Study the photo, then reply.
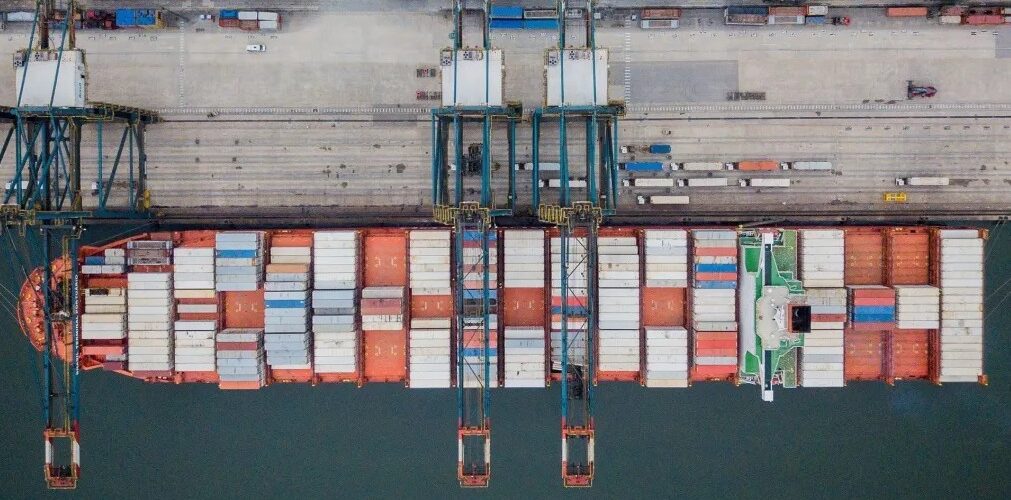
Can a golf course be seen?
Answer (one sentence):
No, the photo shows no golf course.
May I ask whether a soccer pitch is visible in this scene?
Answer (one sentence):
No, this view has no soccer pitch in it.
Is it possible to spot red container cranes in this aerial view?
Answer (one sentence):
No, there's no red container crane here.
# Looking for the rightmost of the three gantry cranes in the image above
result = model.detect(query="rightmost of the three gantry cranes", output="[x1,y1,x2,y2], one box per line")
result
[528,0,627,488]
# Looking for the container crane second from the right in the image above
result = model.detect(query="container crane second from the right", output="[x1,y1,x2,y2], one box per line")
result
[424,0,522,489]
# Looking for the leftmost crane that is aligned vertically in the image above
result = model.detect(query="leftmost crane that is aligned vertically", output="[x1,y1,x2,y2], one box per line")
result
[0,0,173,491]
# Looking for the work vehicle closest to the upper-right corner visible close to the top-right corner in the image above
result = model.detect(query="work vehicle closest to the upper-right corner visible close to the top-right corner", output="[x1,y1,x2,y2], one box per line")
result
[909,78,942,98]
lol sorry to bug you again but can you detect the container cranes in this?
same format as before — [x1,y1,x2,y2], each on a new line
[0,0,173,491]
[424,0,522,489]
[528,0,627,488]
